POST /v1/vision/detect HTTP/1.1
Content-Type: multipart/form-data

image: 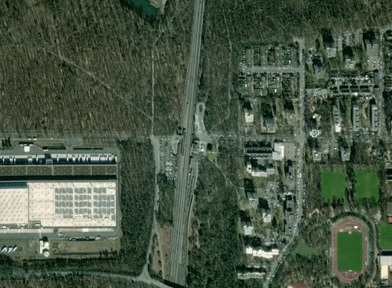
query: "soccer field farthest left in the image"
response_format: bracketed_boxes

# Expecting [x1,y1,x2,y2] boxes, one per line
[321,169,346,202]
